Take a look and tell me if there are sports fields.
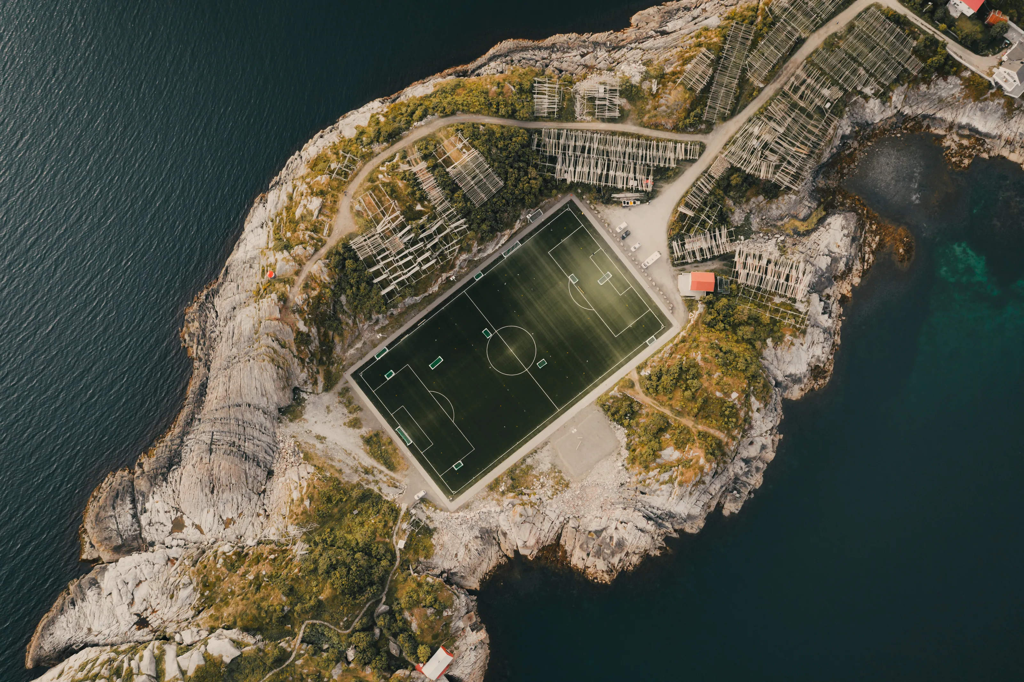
Yes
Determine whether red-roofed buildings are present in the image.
Yes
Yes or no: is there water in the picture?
Yes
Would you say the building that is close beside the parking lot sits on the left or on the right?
right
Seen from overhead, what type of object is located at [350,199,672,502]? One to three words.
sports field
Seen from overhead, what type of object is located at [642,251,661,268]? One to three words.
vehicle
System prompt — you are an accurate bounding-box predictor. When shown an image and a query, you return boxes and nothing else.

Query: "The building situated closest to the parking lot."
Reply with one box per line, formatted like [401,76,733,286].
[689,272,715,292]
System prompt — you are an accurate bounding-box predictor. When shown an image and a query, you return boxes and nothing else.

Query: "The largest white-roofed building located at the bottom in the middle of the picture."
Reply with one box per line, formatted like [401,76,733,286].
[422,645,453,680]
